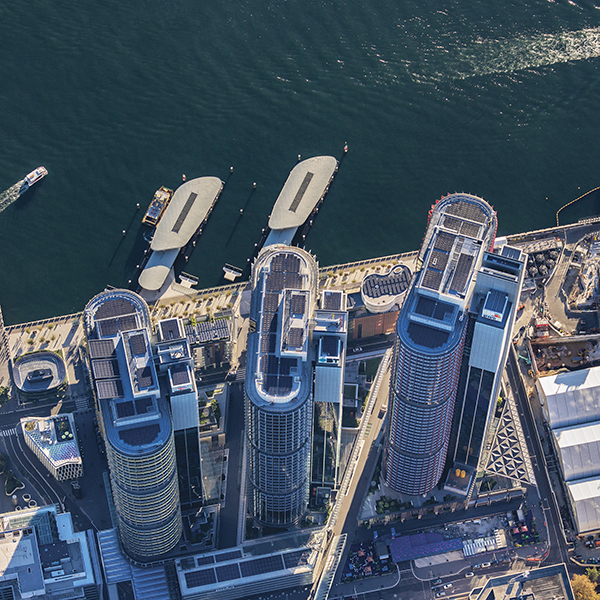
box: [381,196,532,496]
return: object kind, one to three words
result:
building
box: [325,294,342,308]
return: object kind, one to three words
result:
solar array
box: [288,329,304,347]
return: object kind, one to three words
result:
solar array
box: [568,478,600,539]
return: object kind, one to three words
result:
shed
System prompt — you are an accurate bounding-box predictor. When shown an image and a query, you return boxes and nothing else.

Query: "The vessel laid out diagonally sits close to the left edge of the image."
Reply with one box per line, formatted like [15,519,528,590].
[25,168,47,186]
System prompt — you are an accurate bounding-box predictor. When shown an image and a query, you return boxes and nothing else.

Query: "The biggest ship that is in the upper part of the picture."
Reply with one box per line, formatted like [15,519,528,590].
[142,186,172,227]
